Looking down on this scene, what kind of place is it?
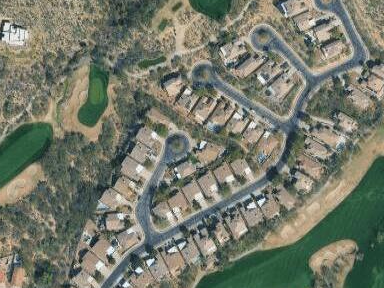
residential area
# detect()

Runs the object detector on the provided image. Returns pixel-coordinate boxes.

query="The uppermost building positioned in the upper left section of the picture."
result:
[2,21,28,46]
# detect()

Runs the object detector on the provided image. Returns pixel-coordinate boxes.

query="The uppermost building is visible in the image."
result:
[281,0,310,18]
